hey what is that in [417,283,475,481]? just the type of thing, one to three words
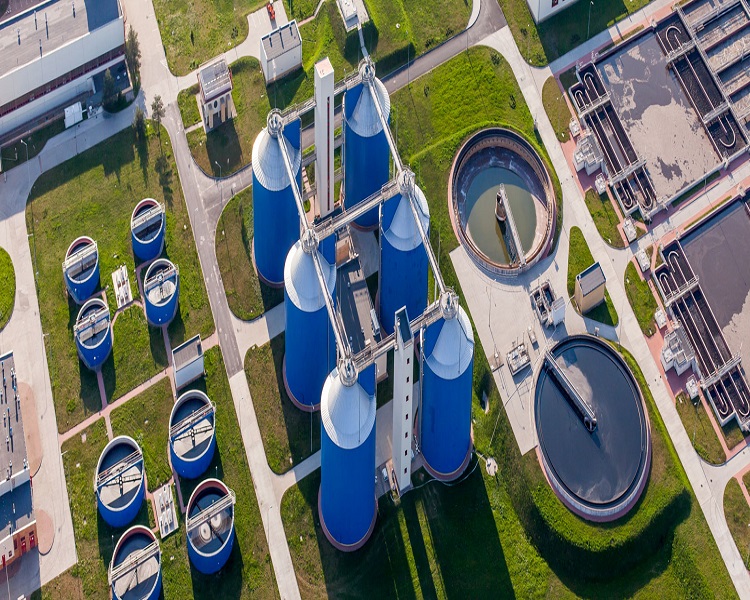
silo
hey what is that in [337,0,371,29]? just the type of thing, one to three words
building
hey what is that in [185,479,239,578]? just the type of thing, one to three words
storage tank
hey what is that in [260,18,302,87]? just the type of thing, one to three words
house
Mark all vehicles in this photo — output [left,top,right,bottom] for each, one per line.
[267,3,279,29]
